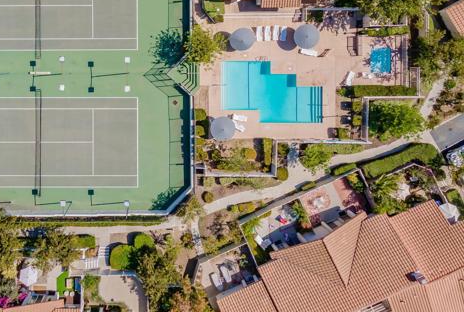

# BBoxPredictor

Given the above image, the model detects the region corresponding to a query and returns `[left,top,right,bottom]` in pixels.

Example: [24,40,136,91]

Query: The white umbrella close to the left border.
[19,264,39,284]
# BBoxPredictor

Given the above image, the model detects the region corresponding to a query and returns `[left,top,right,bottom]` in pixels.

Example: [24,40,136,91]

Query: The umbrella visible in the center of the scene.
[209,115,235,141]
